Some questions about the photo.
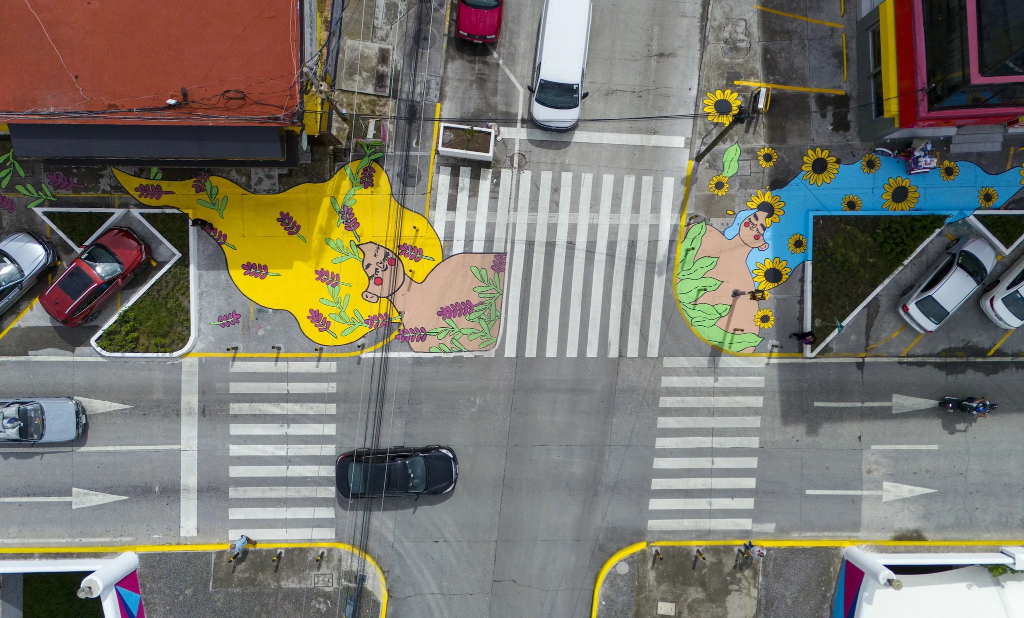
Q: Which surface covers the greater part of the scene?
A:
paved ground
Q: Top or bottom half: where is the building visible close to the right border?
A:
top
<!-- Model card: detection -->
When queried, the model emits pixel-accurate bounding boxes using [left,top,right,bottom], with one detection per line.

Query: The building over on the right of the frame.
[861,0,1024,143]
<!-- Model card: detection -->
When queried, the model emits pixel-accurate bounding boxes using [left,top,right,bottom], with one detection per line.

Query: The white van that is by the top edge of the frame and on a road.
[527,0,595,134]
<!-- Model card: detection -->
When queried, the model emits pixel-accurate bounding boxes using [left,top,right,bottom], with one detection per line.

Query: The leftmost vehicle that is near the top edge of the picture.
[458,0,502,43]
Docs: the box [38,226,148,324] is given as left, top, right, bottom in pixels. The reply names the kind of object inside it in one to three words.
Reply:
car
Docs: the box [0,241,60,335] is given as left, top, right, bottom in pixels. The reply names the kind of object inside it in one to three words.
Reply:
car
